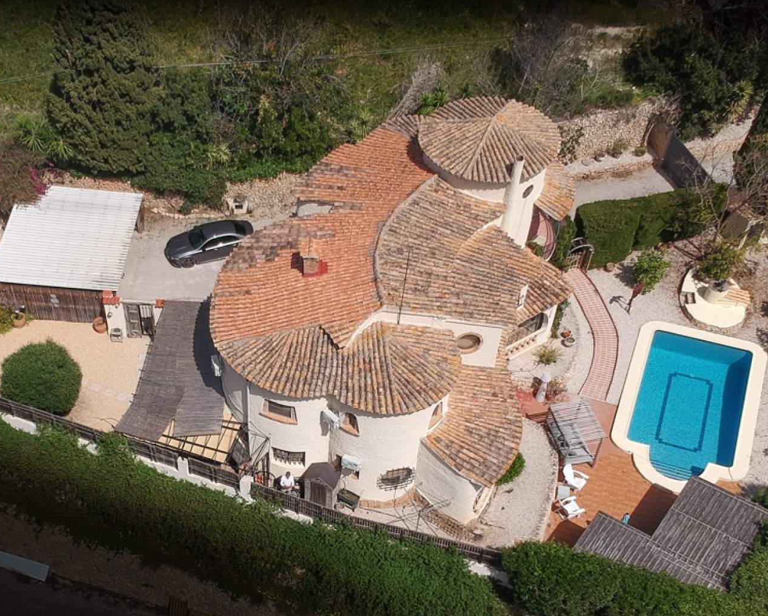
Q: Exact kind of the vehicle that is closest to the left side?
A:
automobile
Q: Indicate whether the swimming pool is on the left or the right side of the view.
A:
right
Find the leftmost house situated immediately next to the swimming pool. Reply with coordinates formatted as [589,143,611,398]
[207,100,577,525]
